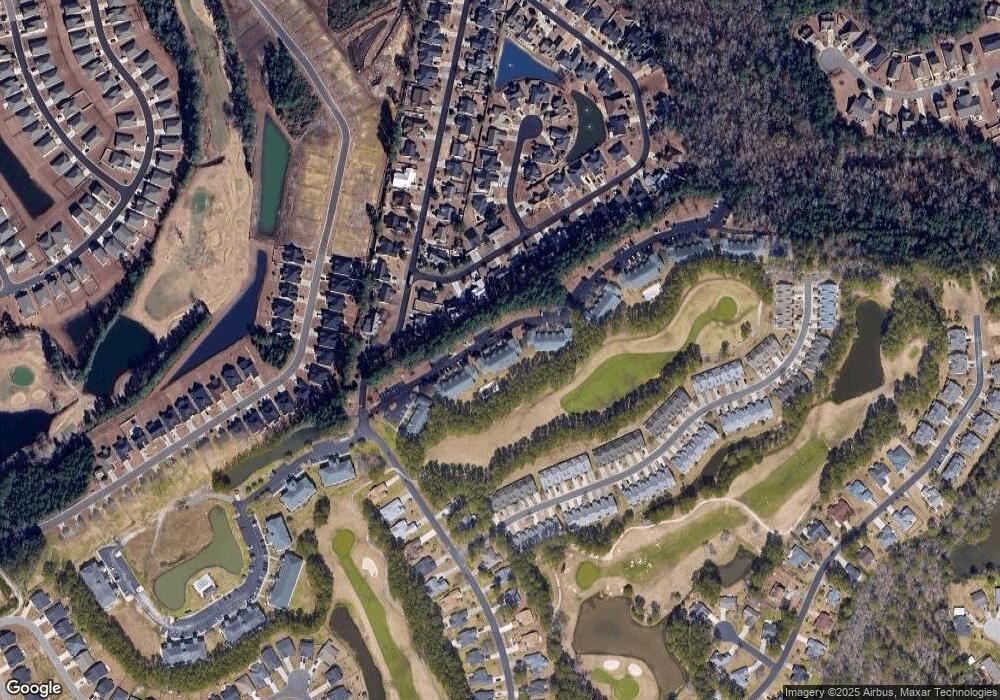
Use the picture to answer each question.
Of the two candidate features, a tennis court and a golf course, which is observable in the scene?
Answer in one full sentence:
It is a golf course that can be seen here.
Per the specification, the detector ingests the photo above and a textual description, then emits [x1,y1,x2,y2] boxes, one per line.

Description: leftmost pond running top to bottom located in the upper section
[259,112,288,233]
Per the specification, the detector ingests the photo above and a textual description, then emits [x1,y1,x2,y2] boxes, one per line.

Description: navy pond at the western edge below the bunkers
[0,411,53,464]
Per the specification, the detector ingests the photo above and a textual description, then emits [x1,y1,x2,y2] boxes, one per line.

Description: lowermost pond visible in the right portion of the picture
[574,597,688,700]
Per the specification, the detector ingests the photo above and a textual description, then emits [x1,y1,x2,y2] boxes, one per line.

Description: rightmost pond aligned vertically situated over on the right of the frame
[832,301,884,402]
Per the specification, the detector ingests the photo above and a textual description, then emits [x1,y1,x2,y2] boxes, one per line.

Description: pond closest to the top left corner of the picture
[0,135,54,217]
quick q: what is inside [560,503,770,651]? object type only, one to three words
golf course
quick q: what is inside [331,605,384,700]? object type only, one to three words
pond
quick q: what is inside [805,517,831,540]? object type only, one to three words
house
